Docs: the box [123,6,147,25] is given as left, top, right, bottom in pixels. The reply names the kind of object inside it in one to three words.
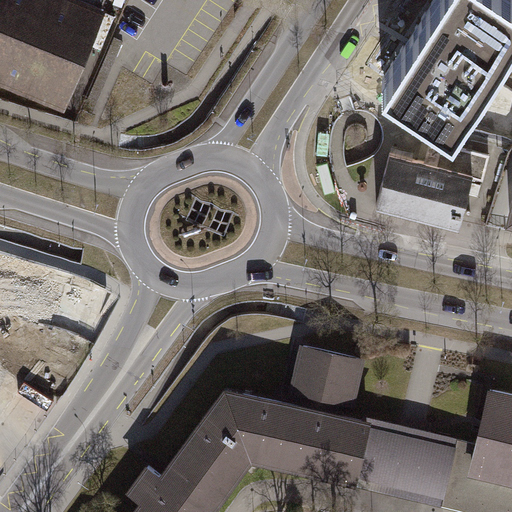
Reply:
car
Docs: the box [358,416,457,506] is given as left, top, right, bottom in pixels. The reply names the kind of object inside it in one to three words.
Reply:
building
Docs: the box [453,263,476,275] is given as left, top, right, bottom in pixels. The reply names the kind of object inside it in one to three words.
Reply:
vehicle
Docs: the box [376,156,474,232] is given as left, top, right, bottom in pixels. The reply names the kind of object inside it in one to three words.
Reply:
house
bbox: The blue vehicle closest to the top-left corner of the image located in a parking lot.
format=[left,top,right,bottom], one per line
[118,20,138,36]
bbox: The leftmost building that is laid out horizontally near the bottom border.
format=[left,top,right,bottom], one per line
[128,389,370,512]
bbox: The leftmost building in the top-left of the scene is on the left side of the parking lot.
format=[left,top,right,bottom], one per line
[0,0,104,112]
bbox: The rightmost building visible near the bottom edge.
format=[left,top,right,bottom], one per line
[468,386,512,487]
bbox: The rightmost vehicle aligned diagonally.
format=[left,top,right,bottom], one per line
[340,35,358,58]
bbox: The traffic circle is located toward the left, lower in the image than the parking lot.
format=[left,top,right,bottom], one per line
[117,141,290,302]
